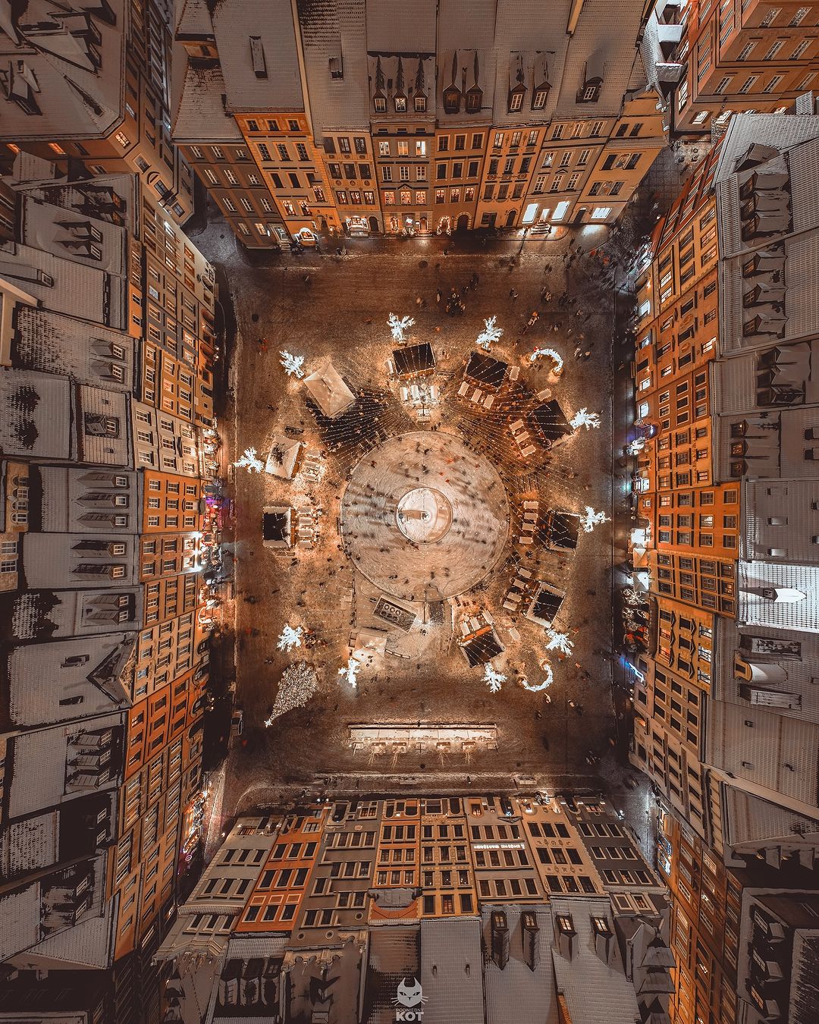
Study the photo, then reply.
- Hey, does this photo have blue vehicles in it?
No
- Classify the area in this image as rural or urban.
urban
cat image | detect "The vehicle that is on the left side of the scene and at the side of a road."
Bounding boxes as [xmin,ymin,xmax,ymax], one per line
[228,709,244,738]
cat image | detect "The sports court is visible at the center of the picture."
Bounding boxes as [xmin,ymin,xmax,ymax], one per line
[336,428,513,604]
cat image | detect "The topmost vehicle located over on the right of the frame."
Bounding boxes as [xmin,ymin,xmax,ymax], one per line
[625,767,647,796]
